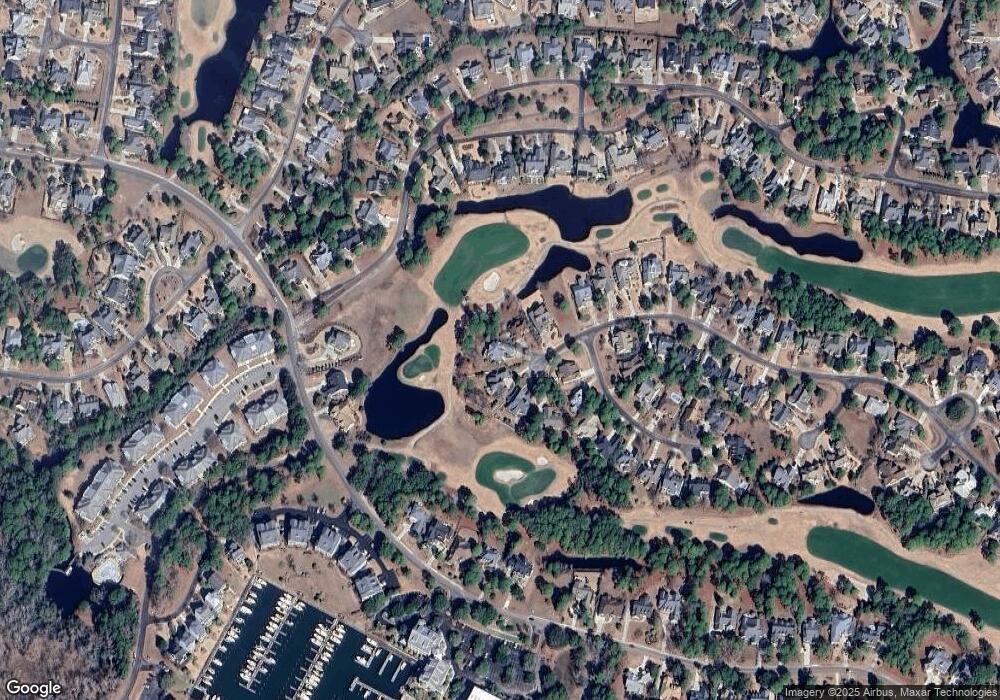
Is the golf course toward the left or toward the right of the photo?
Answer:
right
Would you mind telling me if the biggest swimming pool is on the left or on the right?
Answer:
left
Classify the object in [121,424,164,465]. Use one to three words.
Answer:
building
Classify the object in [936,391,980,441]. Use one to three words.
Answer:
roundabout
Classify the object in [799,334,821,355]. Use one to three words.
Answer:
house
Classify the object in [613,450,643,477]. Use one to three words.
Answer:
house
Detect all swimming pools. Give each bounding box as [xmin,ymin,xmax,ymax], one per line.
[423,33,432,49]
[669,391,684,404]
[95,558,119,581]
